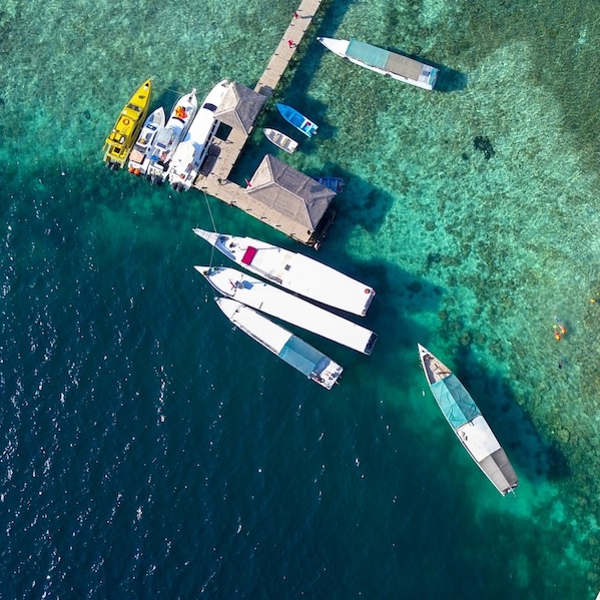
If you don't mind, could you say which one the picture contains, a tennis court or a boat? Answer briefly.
boat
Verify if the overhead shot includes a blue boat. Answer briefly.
Yes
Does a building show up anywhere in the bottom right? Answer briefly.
No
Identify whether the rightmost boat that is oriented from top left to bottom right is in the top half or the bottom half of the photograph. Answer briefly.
bottom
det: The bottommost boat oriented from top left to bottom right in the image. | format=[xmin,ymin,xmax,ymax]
[418,344,517,496]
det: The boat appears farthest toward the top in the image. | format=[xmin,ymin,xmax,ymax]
[319,37,439,92]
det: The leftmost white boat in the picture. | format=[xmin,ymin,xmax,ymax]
[128,107,164,175]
